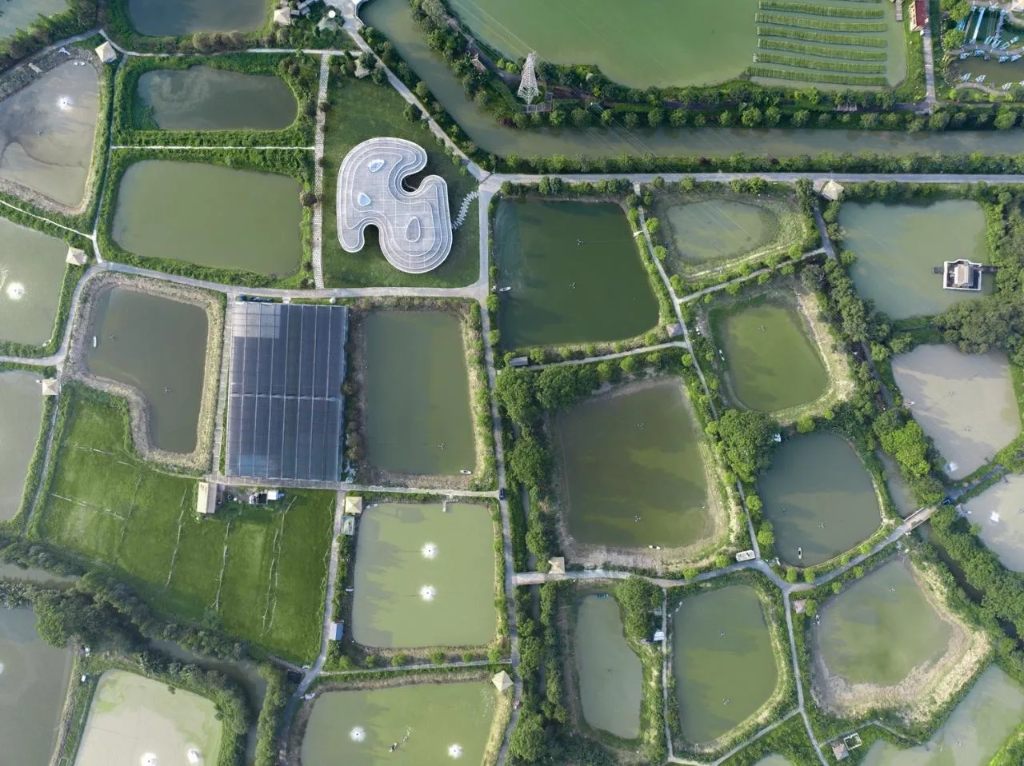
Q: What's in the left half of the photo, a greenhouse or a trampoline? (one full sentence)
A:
It is a greenhouse that can be seen in the left half of the photo.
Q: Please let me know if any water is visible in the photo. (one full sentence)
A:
Yes, some water is visible.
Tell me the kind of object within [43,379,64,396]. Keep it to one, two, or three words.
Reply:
building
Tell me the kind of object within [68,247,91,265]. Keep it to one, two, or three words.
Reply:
building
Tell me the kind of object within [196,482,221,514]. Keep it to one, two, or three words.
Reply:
house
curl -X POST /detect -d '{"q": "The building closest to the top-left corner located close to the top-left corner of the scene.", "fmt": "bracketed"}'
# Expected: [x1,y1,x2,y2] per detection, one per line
[94,41,122,67]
